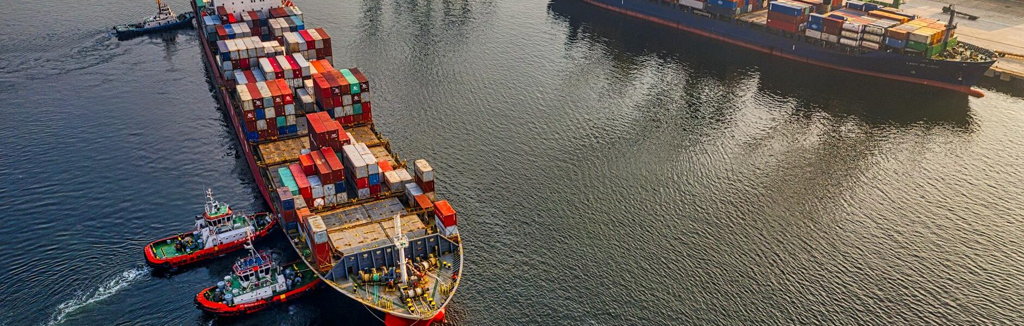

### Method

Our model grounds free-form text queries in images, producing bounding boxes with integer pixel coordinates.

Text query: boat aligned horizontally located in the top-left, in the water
[112,0,196,38]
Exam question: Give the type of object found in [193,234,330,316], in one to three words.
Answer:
boat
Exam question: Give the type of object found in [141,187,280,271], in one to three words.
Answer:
boat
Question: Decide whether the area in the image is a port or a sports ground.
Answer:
port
